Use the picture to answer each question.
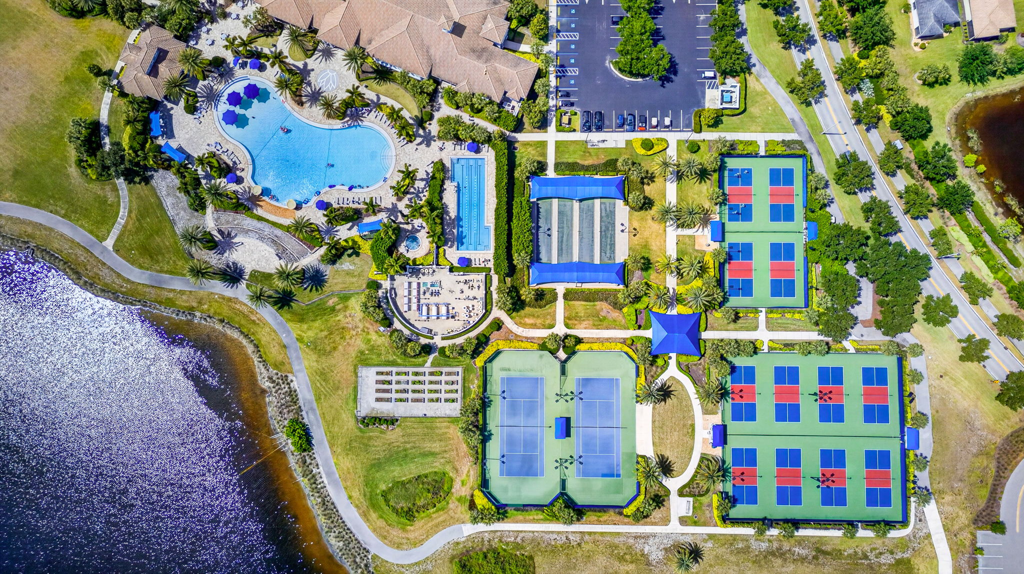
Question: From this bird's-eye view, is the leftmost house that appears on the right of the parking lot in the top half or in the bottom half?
top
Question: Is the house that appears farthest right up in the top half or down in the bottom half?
top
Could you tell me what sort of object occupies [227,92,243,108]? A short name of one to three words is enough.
umbrella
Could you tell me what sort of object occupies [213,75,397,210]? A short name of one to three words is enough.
swimming pool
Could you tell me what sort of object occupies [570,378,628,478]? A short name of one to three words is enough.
tennis court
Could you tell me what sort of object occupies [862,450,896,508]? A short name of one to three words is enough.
sports court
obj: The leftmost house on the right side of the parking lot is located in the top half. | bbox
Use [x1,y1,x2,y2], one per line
[908,0,961,41]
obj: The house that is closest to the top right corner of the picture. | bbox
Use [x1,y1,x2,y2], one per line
[963,0,1017,41]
